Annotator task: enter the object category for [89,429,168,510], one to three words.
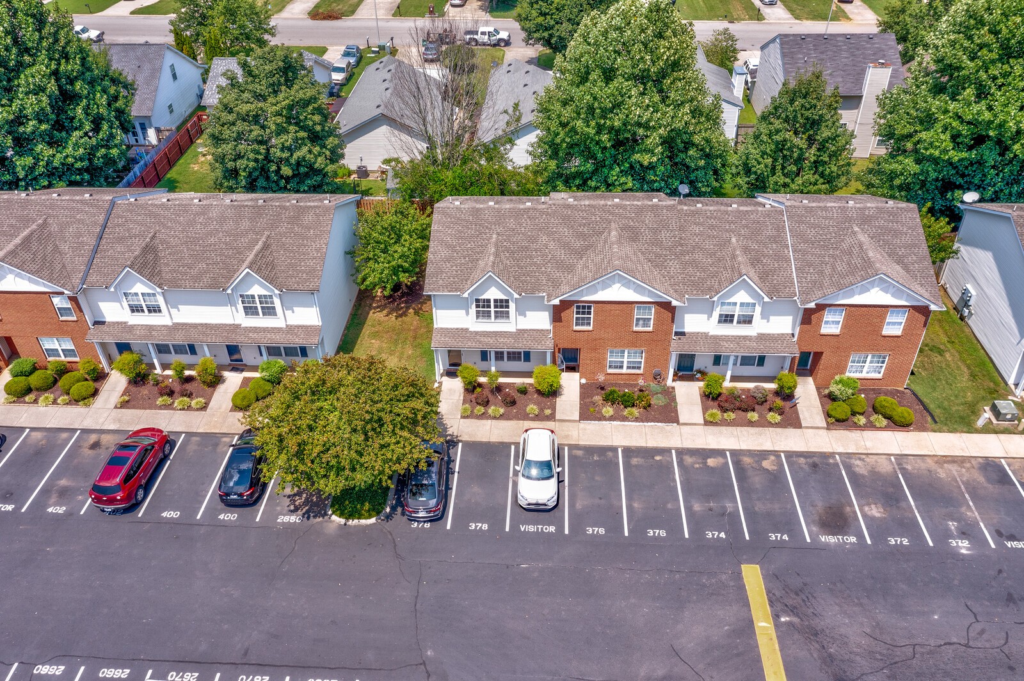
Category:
car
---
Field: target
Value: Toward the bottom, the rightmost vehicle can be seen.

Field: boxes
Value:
[516,428,562,510]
